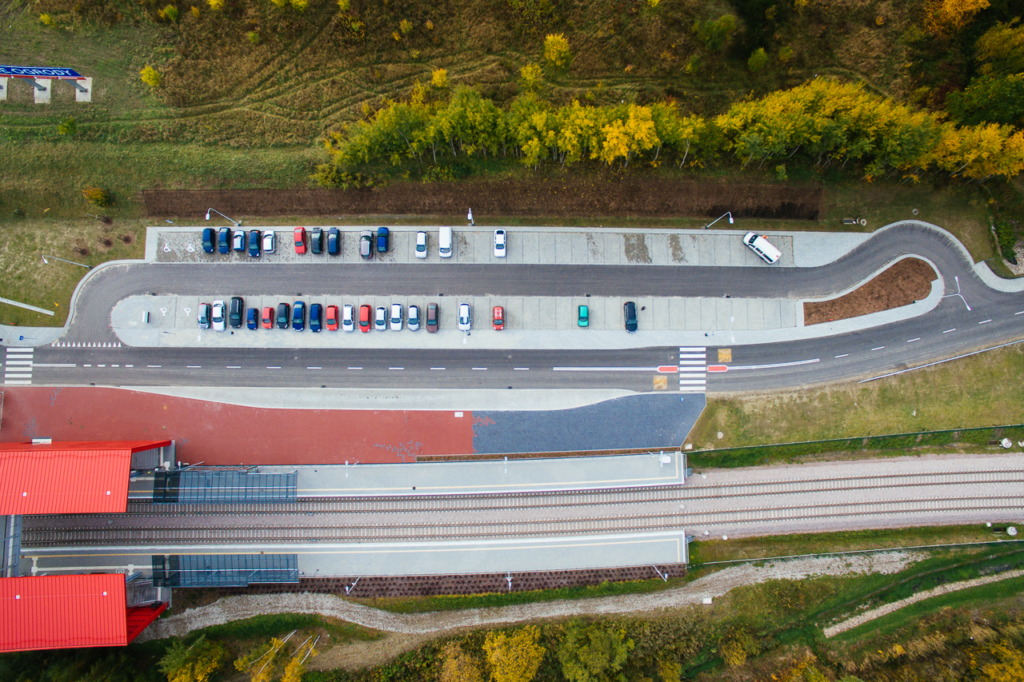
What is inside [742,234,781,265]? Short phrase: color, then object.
white vehicle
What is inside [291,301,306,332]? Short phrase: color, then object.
blue car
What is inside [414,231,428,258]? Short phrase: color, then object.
white car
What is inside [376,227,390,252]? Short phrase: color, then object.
blue car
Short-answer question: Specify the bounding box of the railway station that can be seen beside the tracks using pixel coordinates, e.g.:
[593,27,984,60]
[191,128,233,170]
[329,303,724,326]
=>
[0,439,167,646]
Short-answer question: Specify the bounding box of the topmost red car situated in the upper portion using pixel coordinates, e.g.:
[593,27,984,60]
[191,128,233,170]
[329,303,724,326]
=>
[292,227,307,254]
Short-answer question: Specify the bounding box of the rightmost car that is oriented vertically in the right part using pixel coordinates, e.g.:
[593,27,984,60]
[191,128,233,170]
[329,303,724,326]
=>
[624,301,639,333]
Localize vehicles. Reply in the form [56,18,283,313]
[425,303,439,333]
[217,227,233,254]
[201,228,216,253]
[247,229,262,257]
[227,297,244,329]
[438,226,452,258]
[245,308,260,330]
[742,234,781,265]
[324,305,339,331]
[261,230,277,253]
[231,230,247,251]
[414,231,428,258]
[260,307,275,329]
[359,230,374,258]
[275,303,290,329]
[376,227,390,252]
[291,301,306,332]
[341,304,355,332]
[210,300,227,331]
[195,303,212,329]
[292,227,307,254]
[406,305,420,331]
[624,301,639,333]
[374,306,388,331]
[309,228,324,254]
[389,303,403,331]
[308,304,324,333]
[357,305,372,332]
[457,302,472,331]
[326,227,341,256]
